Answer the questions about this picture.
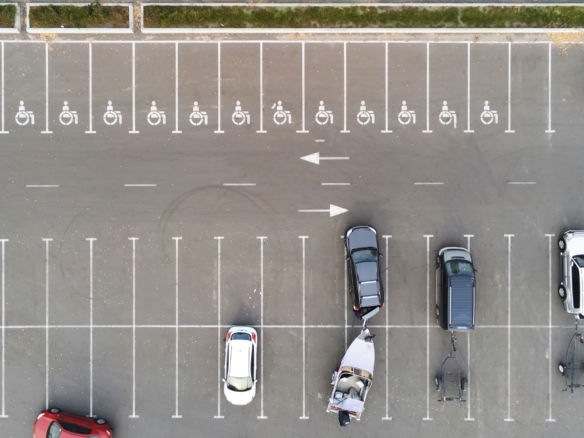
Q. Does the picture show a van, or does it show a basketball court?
van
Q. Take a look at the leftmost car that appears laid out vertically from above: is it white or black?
white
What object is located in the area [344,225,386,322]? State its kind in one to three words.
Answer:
car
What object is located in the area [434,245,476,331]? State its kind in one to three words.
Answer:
van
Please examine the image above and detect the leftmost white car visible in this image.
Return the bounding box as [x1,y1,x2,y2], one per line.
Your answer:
[220,324,259,405]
